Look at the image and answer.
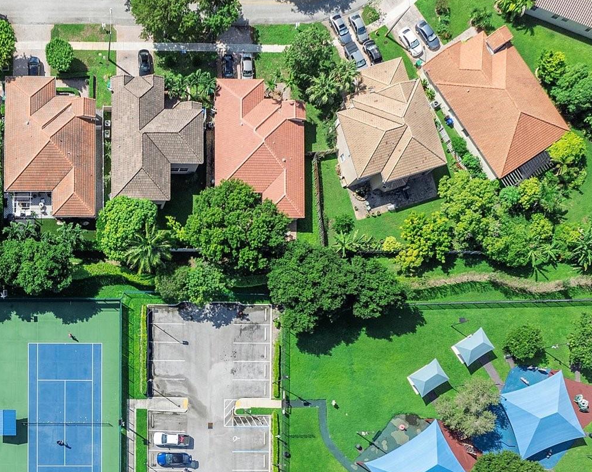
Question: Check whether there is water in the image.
No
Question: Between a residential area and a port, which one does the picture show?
residential area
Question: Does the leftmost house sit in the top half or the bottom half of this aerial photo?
top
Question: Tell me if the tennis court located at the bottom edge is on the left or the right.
left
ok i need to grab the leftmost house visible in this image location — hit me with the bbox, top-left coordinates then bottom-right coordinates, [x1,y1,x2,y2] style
[5,76,96,219]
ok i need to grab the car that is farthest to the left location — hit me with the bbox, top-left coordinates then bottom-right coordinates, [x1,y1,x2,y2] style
[27,54,40,76]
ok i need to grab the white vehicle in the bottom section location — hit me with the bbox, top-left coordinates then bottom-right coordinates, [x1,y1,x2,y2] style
[152,432,191,448]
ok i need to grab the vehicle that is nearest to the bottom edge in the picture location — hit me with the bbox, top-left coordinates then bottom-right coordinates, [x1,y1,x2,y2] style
[158,453,195,467]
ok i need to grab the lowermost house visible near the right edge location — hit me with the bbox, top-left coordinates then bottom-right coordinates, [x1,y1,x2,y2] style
[419,26,571,181]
